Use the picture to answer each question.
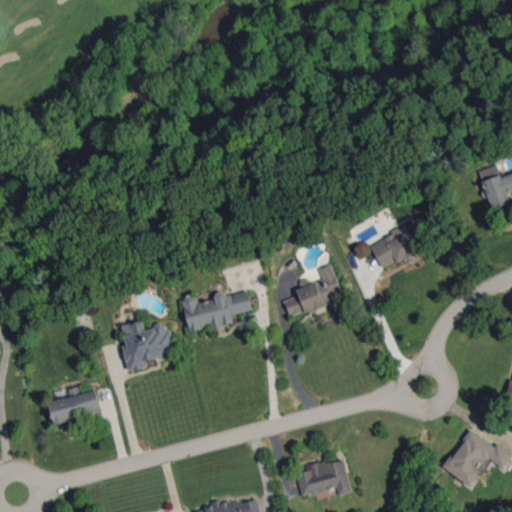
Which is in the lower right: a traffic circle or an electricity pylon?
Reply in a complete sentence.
It is a traffic circle that can be seen in the lower right.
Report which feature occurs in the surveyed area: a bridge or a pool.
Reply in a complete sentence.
Of the two, only a pool appears.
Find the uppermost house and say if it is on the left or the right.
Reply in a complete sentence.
The uppermost house sits on the right side.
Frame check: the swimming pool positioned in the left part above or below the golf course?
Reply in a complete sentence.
The position of the swimming pool positioned in the left part is below the golf course.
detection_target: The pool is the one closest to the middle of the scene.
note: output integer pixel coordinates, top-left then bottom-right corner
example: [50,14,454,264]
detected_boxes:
[303,246,324,270]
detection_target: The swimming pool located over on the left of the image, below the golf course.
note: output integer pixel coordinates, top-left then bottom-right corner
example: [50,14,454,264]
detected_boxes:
[137,292,166,315]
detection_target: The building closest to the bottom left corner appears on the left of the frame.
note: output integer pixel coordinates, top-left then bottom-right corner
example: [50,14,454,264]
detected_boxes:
[48,386,101,427]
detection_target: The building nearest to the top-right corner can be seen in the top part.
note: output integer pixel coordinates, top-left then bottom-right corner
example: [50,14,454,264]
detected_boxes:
[478,166,512,207]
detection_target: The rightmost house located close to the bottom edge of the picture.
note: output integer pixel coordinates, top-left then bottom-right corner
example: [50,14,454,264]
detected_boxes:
[443,432,512,490]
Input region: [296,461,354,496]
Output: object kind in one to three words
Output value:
house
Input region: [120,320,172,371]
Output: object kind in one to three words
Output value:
house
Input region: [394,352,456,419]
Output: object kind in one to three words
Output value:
roundabout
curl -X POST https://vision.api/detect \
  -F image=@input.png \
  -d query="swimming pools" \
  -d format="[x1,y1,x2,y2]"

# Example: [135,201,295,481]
[303,246,324,270]
[504,156,512,172]
[137,292,166,315]
[355,224,378,242]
